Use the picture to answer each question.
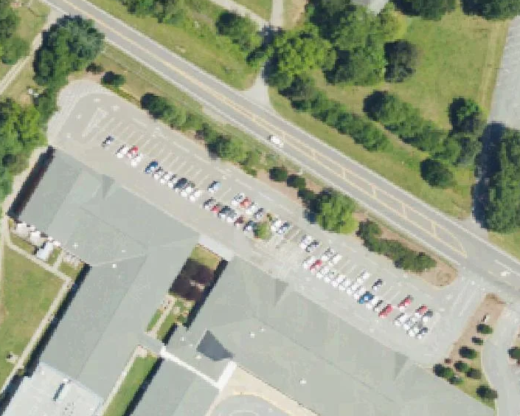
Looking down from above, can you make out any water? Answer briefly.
No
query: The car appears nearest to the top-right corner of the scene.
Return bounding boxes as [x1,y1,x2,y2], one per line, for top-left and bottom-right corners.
[266,134,282,146]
